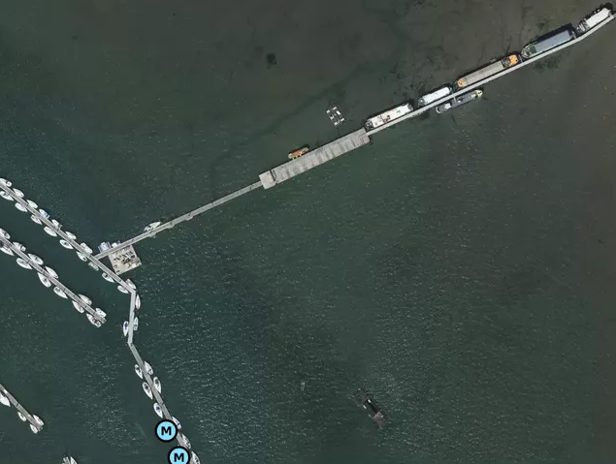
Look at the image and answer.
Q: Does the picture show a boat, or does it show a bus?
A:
boat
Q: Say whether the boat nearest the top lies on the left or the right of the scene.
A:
right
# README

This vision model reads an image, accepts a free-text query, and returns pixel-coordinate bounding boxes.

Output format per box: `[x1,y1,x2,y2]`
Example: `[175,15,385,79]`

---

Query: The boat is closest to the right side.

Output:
[576,5,614,33]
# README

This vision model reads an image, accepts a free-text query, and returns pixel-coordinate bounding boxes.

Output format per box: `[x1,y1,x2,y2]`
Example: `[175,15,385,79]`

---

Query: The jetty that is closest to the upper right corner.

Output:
[366,14,616,136]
